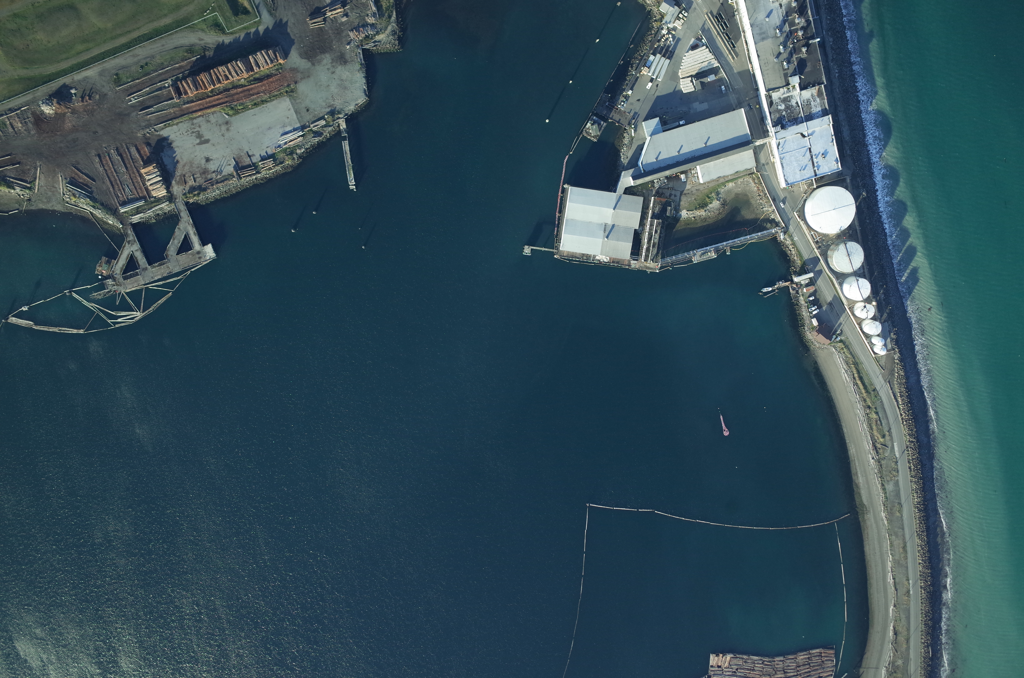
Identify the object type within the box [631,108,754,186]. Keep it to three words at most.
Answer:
building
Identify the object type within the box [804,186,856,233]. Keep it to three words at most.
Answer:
storage tank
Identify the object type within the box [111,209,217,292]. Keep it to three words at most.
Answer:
pier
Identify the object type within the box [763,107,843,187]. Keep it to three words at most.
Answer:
building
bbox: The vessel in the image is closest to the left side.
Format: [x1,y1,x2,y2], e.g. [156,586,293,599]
[95,256,115,276]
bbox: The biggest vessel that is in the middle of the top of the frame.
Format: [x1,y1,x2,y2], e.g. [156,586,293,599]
[582,116,607,141]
